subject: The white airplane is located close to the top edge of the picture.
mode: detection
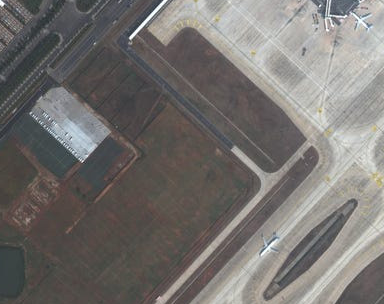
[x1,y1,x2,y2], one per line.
[350,12,372,32]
